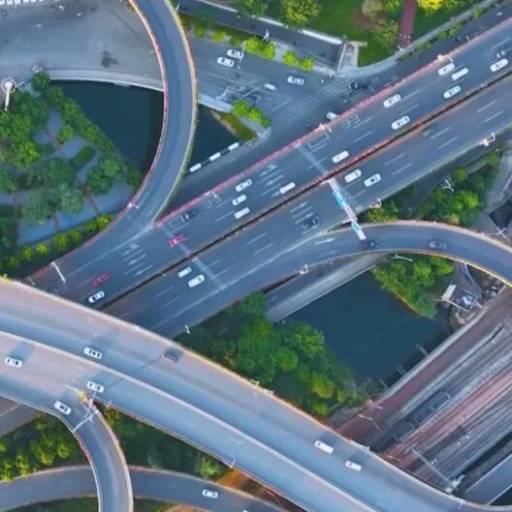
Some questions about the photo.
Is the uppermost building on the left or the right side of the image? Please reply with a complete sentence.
The uppermost building appears in the right half of the scene.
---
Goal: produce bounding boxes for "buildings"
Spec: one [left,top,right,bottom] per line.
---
[440,283,476,313]
[480,193,512,243]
